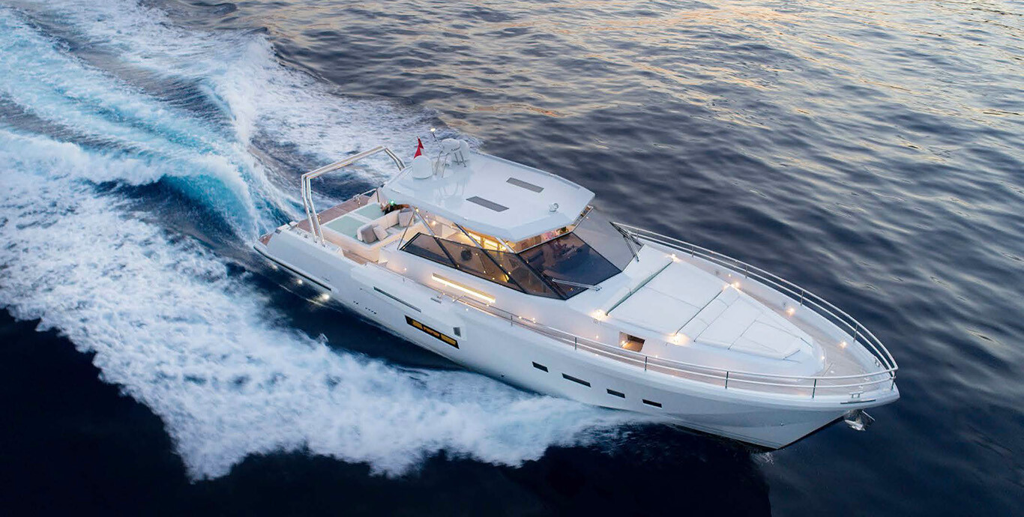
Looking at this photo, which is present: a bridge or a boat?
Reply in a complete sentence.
I can see a boat in this picture.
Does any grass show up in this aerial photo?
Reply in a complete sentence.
No, the scene doesn't show any grass.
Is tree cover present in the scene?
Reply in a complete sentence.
No, there is no tree cover in the image.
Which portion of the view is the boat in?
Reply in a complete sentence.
You can find the boat in the center area of the picture.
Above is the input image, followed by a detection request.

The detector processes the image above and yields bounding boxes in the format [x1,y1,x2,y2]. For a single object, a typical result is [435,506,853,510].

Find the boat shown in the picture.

[256,127,902,453]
